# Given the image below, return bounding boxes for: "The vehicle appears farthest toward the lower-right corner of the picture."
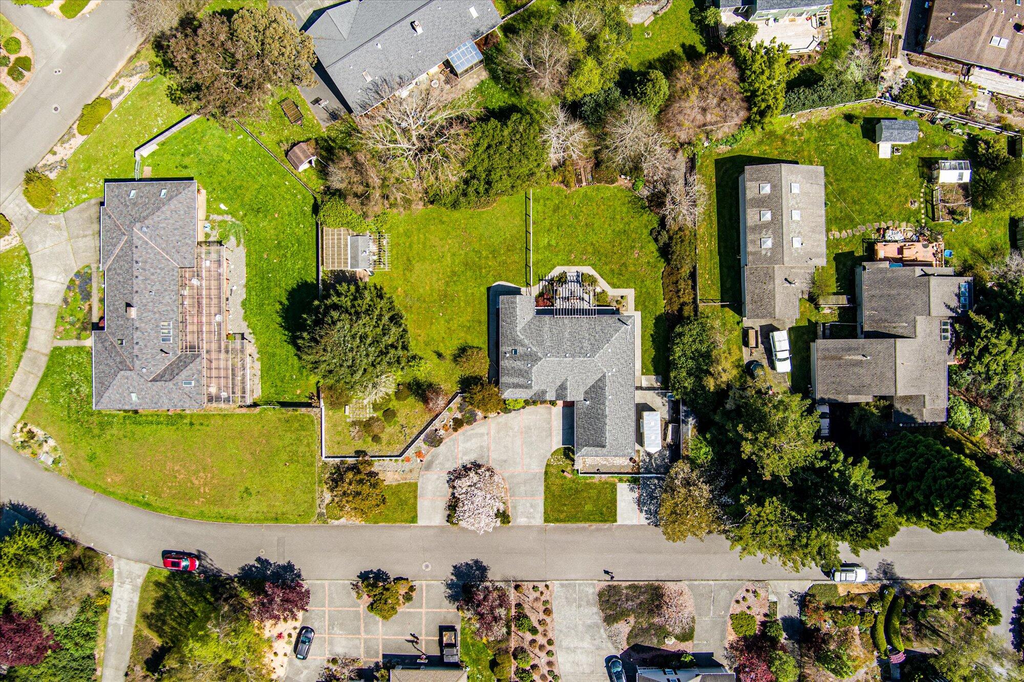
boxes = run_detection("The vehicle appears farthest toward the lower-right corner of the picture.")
[828,565,864,583]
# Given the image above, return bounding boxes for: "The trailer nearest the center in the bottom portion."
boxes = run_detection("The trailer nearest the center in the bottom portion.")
[640,410,663,458]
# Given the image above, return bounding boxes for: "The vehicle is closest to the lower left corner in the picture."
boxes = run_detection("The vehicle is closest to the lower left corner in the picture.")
[162,552,201,571]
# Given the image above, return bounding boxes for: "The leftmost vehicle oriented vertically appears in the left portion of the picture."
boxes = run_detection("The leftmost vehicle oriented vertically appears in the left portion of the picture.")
[295,624,315,661]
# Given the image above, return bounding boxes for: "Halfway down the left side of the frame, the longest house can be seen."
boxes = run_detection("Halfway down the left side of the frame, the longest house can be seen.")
[92,178,210,409]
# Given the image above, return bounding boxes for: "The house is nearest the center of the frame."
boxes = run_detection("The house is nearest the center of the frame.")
[499,296,636,457]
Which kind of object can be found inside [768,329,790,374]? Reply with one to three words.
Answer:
truck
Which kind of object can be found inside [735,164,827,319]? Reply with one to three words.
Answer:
house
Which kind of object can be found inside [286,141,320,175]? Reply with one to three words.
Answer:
shed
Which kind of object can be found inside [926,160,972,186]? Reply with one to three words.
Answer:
greenhouse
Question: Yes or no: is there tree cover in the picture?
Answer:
Yes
